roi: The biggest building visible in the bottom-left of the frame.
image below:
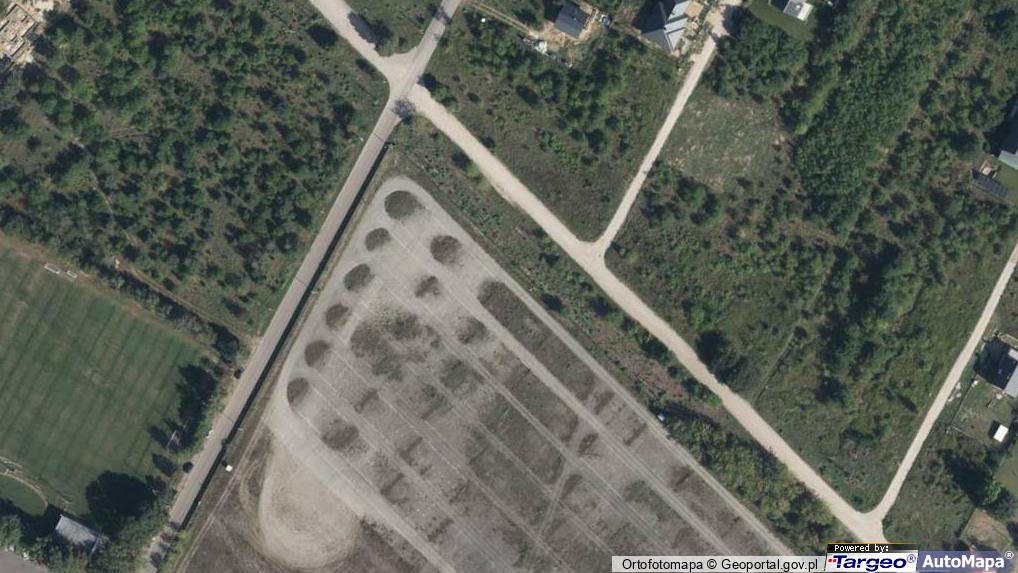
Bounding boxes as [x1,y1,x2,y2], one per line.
[54,516,95,549]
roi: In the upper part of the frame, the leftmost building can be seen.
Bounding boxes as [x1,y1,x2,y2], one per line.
[555,1,590,38]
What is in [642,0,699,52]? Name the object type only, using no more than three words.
house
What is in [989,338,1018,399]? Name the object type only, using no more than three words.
house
